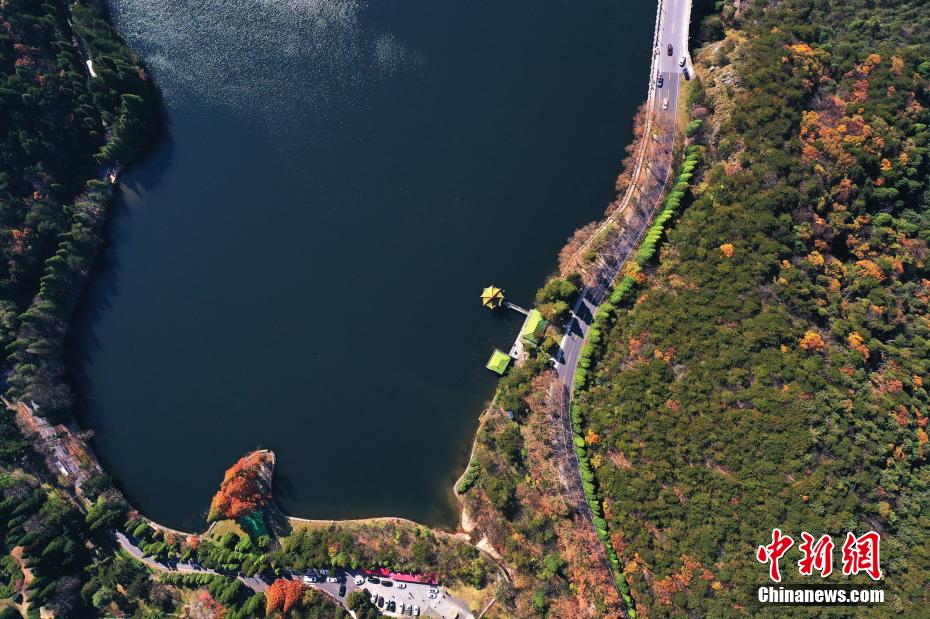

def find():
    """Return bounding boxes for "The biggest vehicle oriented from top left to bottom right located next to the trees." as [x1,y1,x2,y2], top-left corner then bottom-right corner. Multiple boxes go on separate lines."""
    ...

[87,61,103,81]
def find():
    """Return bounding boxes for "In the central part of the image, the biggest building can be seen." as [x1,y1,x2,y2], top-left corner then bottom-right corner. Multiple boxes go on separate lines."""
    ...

[520,310,549,345]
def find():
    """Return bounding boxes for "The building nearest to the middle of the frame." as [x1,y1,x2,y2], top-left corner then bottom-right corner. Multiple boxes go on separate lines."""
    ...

[480,285,505,309]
